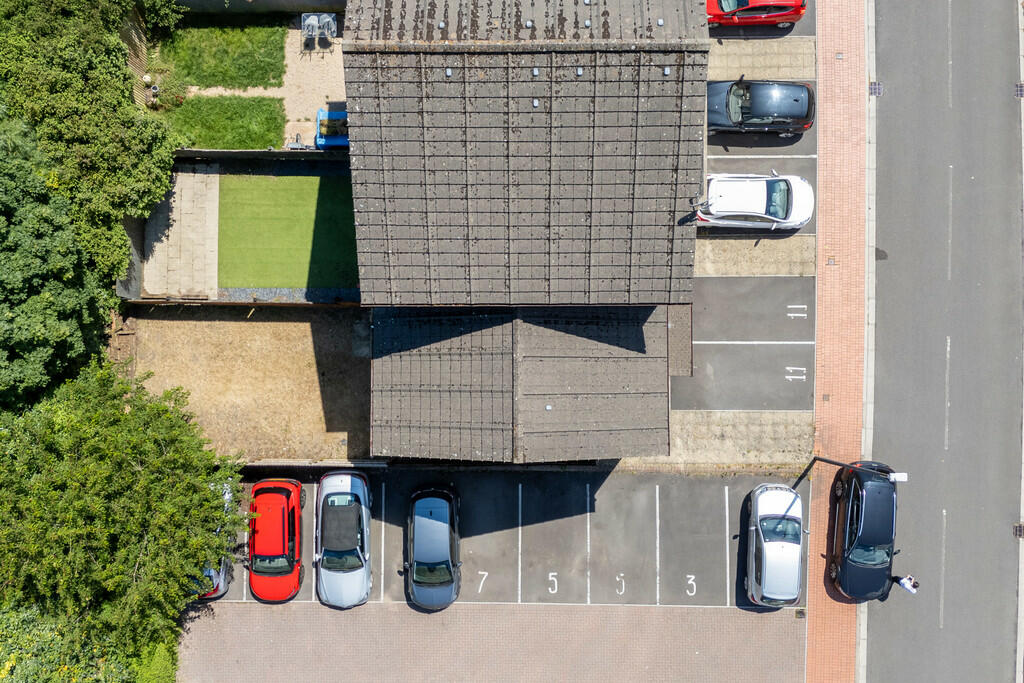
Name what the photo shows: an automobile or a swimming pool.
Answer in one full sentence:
I can see an automobile in this picture.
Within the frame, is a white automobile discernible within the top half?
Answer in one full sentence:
Yes, within the top half there is a white automobile.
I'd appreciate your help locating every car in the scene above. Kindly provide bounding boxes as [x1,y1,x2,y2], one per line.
[403,485,466,612]
[706,71,816,135]
[747,482,811,607]
[699,169,814,232]
[708,0,808,27]
[244,477,306,603]
[310,469,374,609]
[831,459,903,601]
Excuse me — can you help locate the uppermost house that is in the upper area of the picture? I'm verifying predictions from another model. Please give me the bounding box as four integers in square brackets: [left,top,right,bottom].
[344,0,713,304]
